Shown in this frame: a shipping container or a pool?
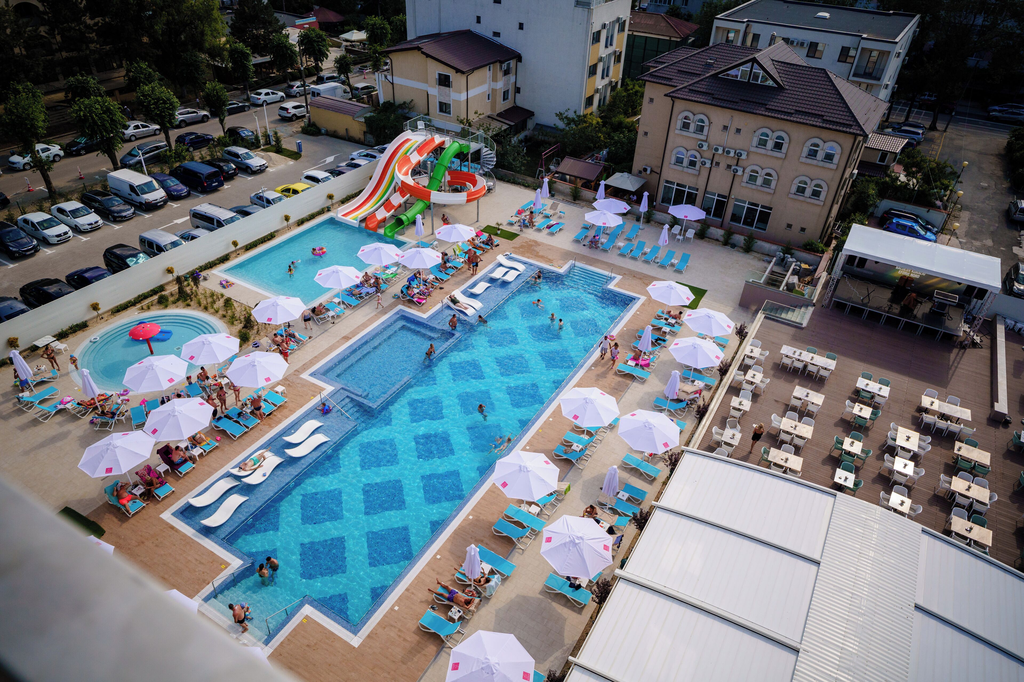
pool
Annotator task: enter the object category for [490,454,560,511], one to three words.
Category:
umbrella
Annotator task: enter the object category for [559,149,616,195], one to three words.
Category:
shed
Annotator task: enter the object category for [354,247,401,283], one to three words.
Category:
umbrella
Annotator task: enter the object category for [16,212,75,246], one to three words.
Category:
car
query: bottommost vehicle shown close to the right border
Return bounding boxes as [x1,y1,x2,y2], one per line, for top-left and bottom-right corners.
[1001,262,1024,296]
